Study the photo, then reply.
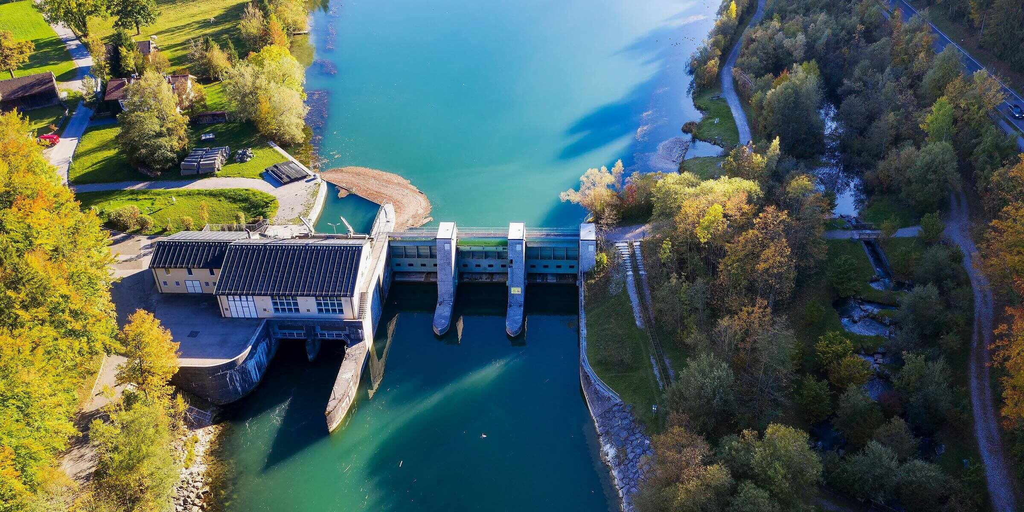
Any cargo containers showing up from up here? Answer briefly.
No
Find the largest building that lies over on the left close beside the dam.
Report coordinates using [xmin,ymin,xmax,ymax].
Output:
[212,238,380,361]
